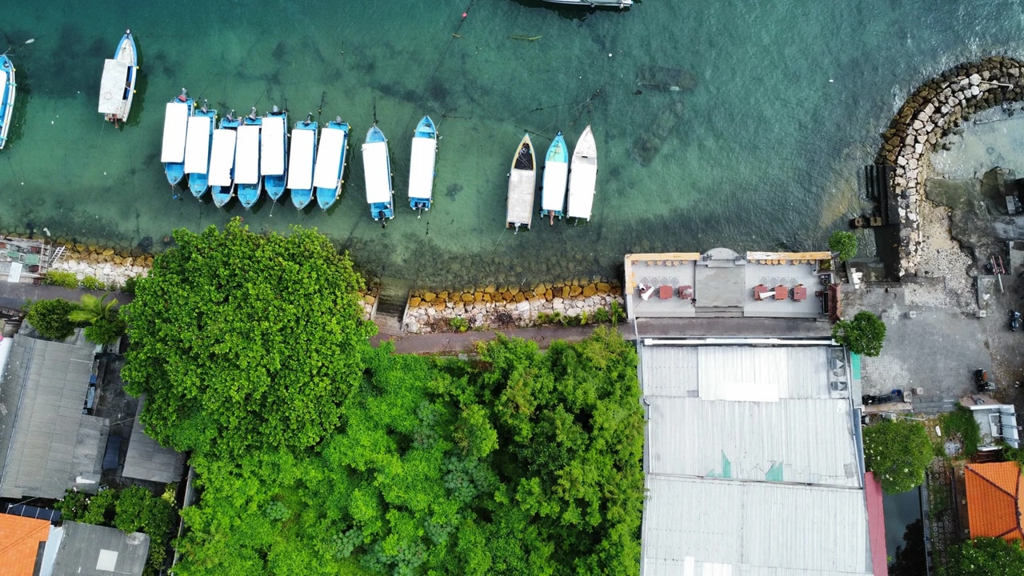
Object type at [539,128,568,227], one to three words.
boat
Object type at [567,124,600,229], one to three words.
boat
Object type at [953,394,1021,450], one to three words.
building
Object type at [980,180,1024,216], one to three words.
shed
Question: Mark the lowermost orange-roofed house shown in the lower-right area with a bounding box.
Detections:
[952,461,1024,552]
